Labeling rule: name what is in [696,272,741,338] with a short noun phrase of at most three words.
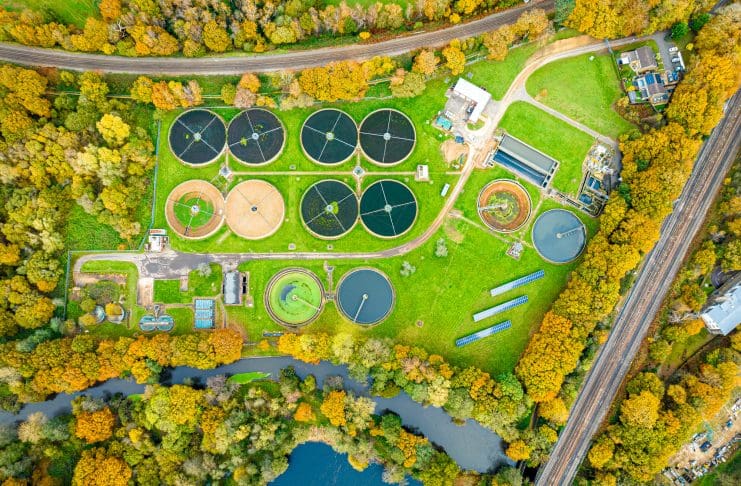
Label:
building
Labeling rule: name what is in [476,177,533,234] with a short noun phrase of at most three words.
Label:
storage tank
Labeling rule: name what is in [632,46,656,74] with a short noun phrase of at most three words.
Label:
house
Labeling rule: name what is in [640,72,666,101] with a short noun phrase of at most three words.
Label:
house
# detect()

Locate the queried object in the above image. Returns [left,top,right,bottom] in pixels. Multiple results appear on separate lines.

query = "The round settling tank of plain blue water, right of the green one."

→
[336,267,394,326]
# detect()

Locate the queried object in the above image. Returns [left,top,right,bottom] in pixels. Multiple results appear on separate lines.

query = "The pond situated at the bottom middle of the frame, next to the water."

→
[266,440,418,486]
